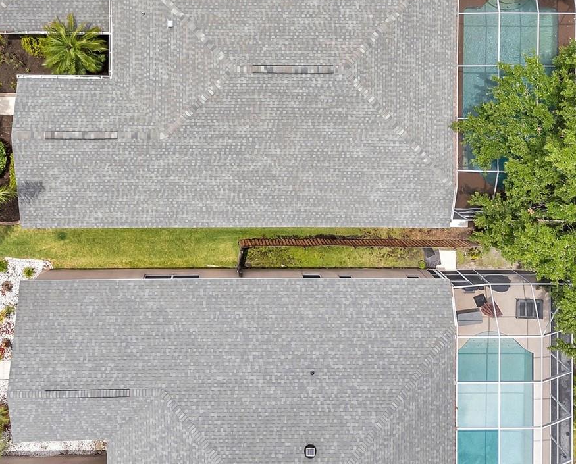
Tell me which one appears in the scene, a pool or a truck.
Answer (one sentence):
There is a pool in the scene.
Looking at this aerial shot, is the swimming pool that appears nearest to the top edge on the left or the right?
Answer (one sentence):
You can find the swimming pool that appears nearest to the top edge on the right side of the picture.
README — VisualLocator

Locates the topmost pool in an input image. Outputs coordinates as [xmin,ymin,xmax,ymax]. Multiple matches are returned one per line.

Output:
[465,0,559,198]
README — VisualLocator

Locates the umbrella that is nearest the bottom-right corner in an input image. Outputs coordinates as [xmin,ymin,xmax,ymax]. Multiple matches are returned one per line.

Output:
[480,301,515,329]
